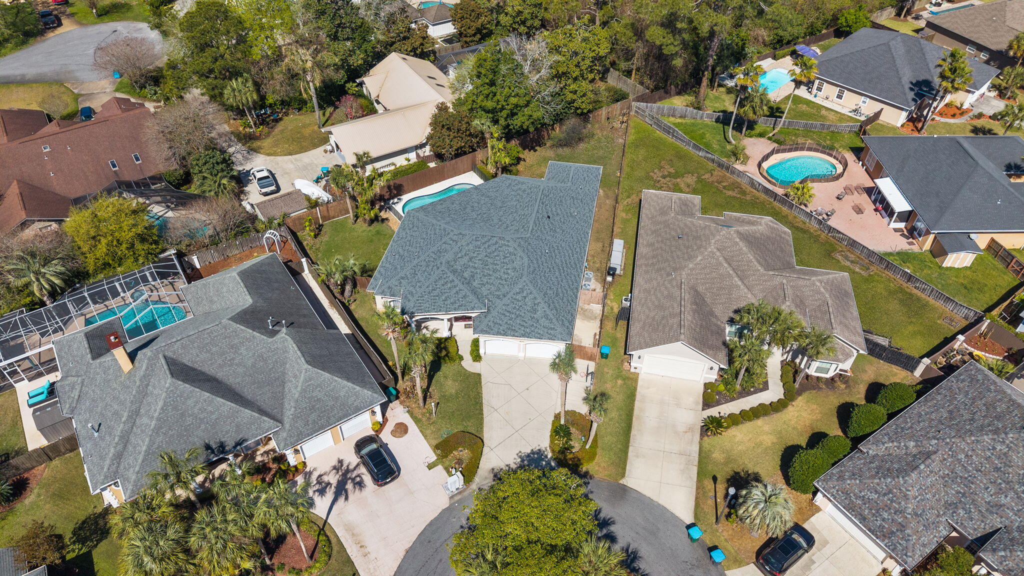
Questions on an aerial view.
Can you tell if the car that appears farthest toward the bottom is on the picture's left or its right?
right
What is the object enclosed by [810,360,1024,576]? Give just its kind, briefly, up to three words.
house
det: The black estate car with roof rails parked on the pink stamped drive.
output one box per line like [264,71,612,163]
[354,431,400,490]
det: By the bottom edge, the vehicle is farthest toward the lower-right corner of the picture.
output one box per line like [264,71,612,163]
[759,525,822,576]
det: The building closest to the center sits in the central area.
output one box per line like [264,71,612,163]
[366,161,603,359]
